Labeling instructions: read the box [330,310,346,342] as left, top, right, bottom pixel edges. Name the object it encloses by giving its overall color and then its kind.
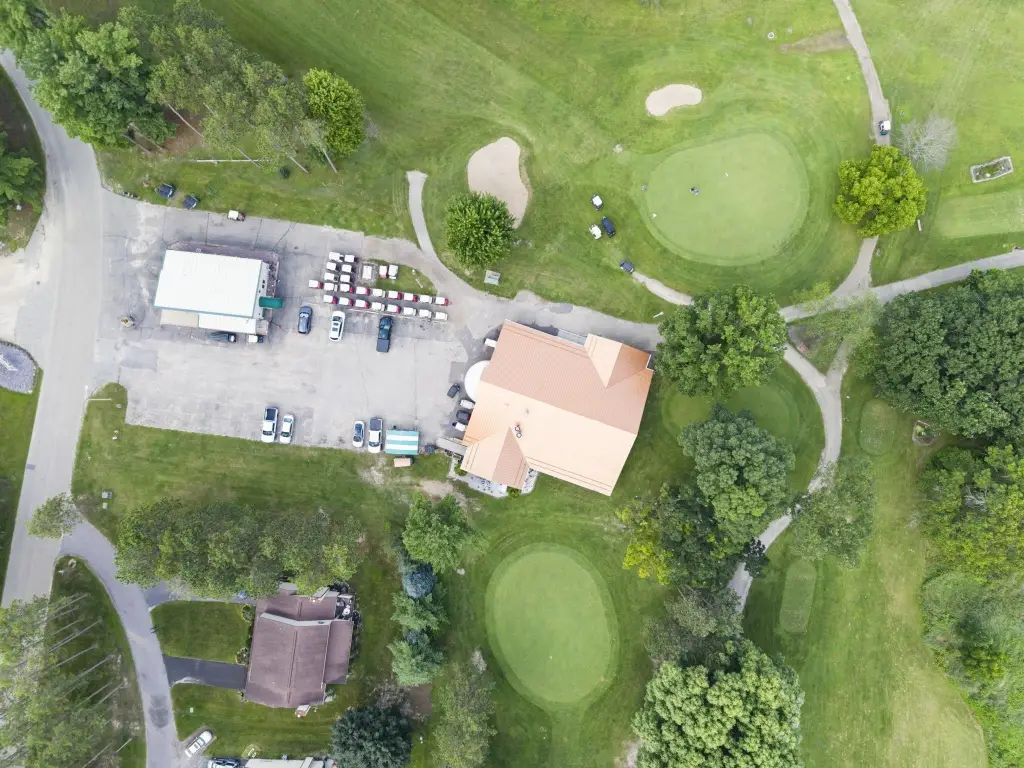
white car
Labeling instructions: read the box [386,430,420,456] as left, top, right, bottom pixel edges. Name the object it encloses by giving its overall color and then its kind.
white tent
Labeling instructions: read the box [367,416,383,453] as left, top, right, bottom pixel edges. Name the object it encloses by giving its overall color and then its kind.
white vehicle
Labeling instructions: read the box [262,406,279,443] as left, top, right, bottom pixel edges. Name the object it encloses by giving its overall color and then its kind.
white vehicle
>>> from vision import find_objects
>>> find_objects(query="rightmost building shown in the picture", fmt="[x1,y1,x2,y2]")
[435,320,653,495]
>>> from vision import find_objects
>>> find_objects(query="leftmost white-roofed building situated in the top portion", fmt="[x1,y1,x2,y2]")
[153,250,286,336]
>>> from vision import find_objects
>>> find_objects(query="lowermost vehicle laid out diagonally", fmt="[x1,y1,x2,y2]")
[186,728,214,758]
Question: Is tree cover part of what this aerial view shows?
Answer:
Yes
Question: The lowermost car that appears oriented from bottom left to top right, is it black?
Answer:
No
